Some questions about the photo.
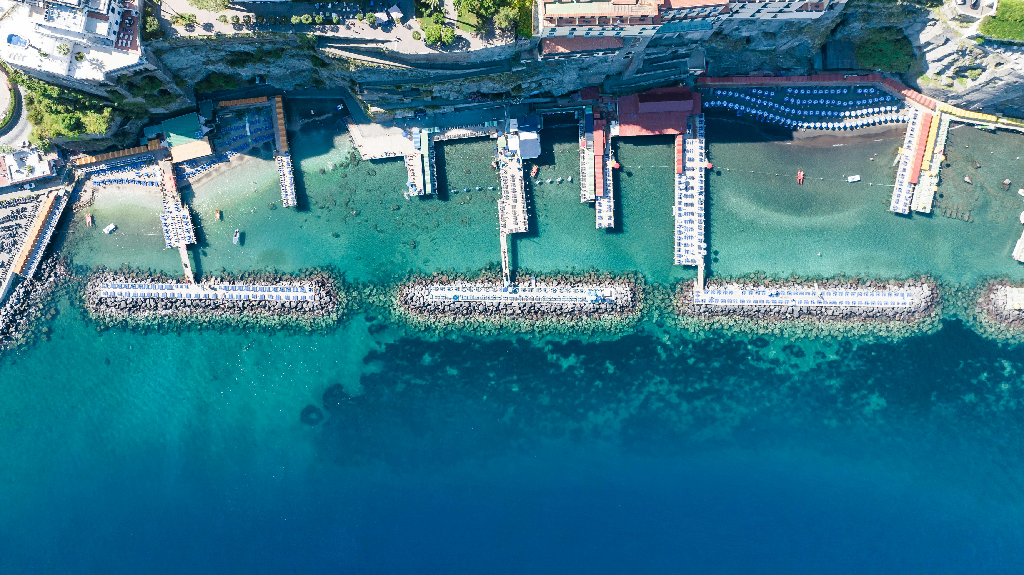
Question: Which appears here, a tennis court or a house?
house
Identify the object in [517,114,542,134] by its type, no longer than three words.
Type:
building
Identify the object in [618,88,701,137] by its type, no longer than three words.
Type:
house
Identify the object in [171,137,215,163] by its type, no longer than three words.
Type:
building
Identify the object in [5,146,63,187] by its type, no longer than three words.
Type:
house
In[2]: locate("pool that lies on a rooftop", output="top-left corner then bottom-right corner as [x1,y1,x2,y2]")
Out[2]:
[6,33,33,50]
